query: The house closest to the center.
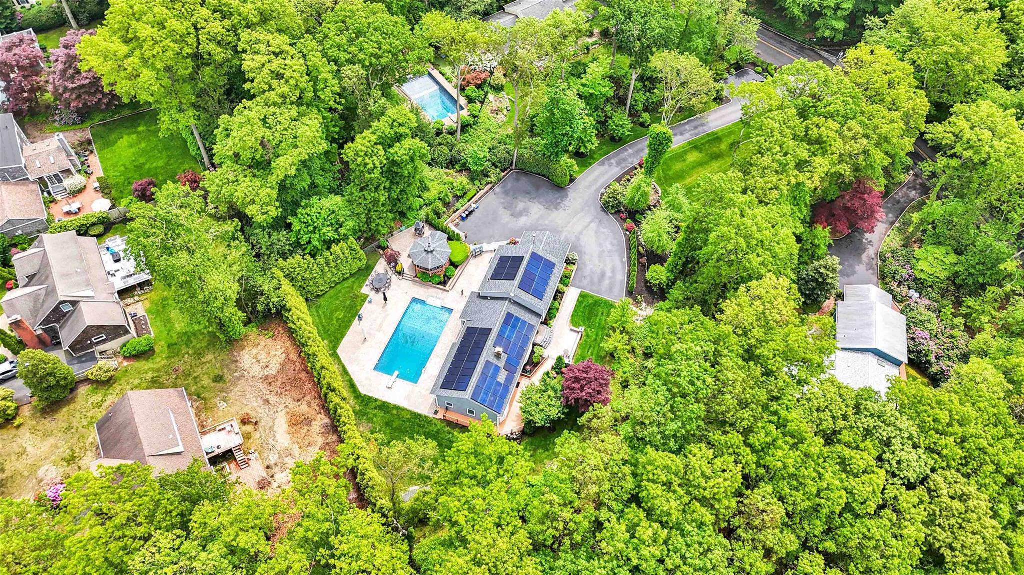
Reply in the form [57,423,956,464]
[428,229,572,425]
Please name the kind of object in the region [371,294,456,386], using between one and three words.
swimming pool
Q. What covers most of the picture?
trees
